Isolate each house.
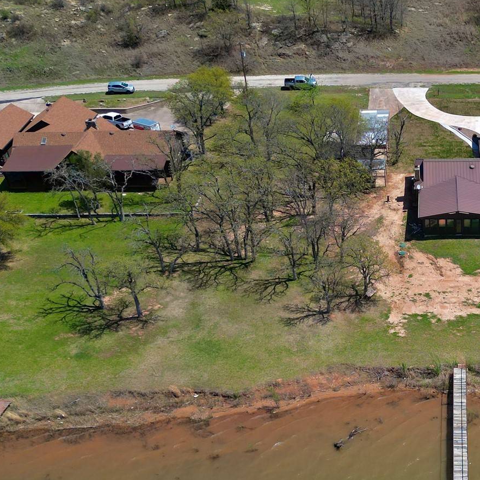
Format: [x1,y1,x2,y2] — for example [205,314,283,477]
[409,146,480,239]
[0,97,189,189]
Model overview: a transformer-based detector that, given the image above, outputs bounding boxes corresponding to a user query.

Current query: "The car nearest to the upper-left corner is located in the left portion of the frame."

[103,82,135,95]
